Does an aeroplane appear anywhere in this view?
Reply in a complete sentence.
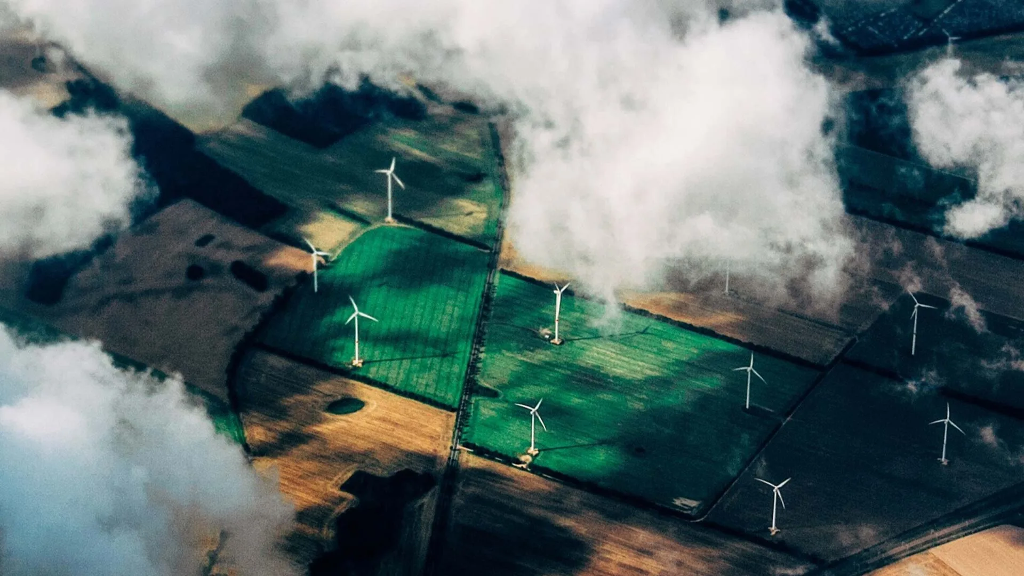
No, there's no aeroplane here.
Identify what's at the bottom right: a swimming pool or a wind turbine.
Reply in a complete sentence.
The feature located at the bottom right is a wind turbine.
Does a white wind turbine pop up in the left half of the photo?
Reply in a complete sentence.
Yes, there is a white wind turbine in the left half of the photo.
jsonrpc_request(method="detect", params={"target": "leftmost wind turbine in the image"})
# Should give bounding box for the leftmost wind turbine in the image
[304,237,330,293]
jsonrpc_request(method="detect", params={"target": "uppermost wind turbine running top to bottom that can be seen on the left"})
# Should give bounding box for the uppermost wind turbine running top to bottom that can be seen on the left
[376,158,404,219]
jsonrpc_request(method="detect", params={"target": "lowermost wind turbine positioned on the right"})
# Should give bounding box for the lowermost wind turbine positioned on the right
[757,477,790,530]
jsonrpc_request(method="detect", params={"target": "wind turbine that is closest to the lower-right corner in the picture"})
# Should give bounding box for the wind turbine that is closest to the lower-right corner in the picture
[929,401,966,462]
